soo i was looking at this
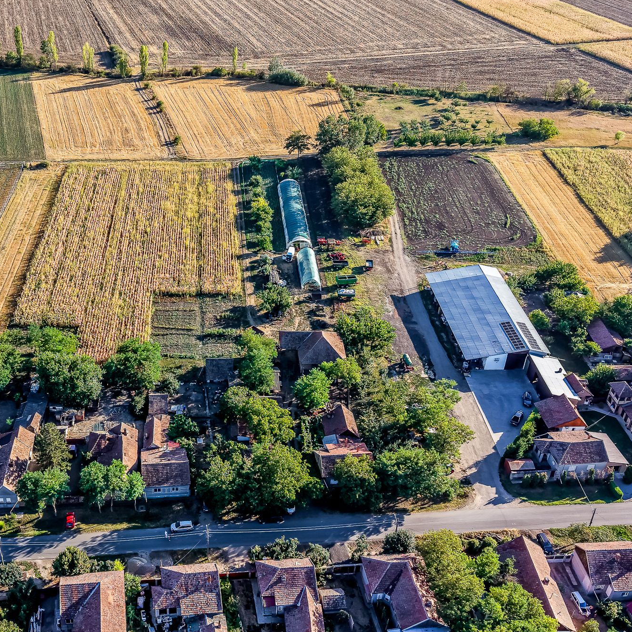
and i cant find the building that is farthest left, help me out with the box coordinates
[0,393,49,503]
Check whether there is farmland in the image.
Yes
